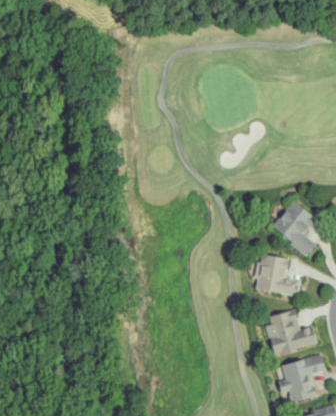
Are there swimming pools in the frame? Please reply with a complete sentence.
No, no swimming pool can be seen from above.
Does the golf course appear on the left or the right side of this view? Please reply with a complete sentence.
You can find the golf course on the right side of the picture.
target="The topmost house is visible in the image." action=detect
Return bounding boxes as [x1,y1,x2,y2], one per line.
[275,202,318,256]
